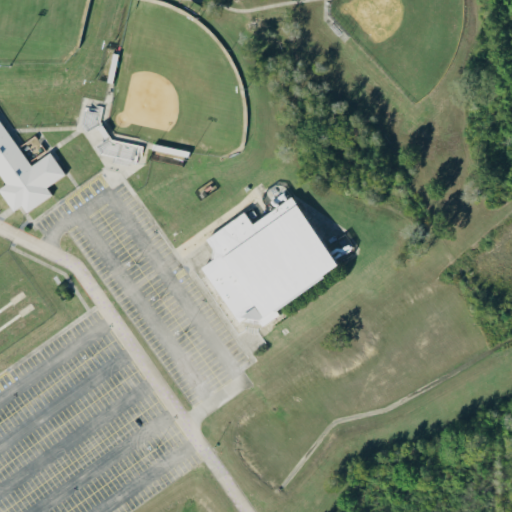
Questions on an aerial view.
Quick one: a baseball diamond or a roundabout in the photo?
baseball diamond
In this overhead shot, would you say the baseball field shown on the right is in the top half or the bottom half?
top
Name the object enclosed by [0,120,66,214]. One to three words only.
building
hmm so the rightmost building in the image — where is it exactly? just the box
[202,196,342,326]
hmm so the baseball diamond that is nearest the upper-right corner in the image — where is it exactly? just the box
[331,0,464,102]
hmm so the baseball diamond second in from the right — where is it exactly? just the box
[110,0,248,161]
